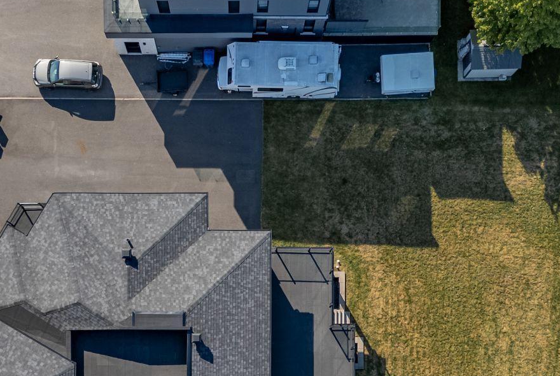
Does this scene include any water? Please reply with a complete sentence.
No, no water is visible.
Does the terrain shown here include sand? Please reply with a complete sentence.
No, the picture contains no sand.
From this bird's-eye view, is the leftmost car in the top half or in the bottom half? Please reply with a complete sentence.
Seen from above, the leftmost car lies in the top half of the view.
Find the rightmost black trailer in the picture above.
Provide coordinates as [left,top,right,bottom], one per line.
[139,68,187,98]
